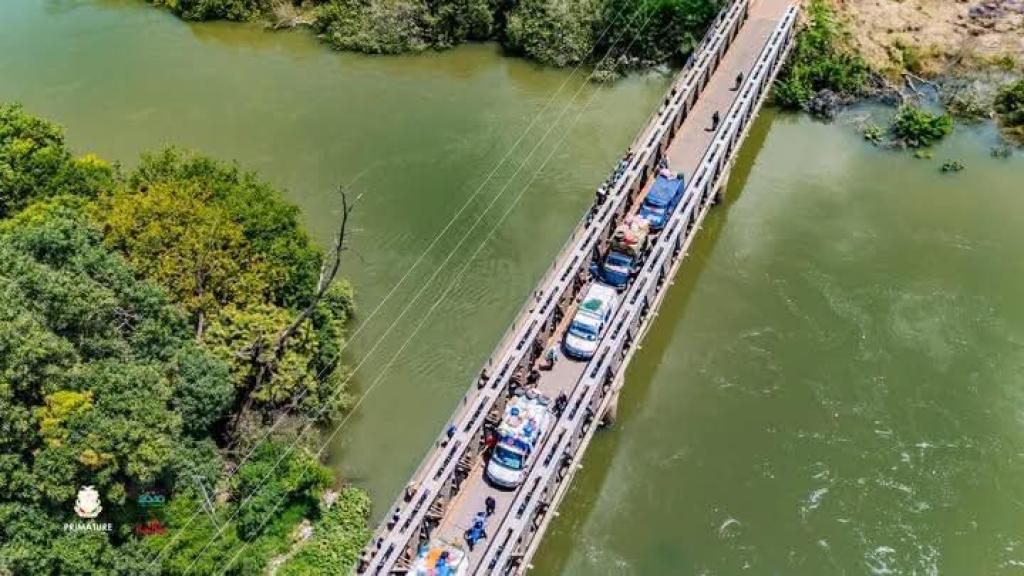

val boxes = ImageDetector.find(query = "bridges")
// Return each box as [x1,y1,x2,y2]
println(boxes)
[344,0,811,576]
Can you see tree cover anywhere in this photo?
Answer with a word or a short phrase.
Yes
